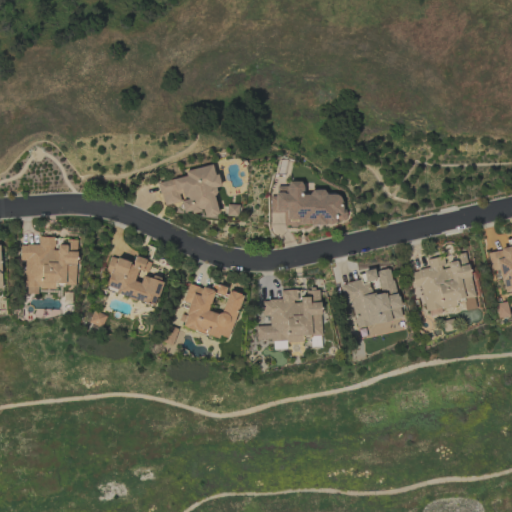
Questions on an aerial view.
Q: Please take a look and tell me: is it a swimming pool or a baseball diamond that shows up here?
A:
swimming pool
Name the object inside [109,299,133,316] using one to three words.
swimming pool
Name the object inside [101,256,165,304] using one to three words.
house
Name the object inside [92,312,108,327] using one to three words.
gazebo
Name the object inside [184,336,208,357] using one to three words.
swimming pool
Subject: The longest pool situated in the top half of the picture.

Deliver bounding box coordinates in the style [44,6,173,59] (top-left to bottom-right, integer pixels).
[228,164,244,188]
